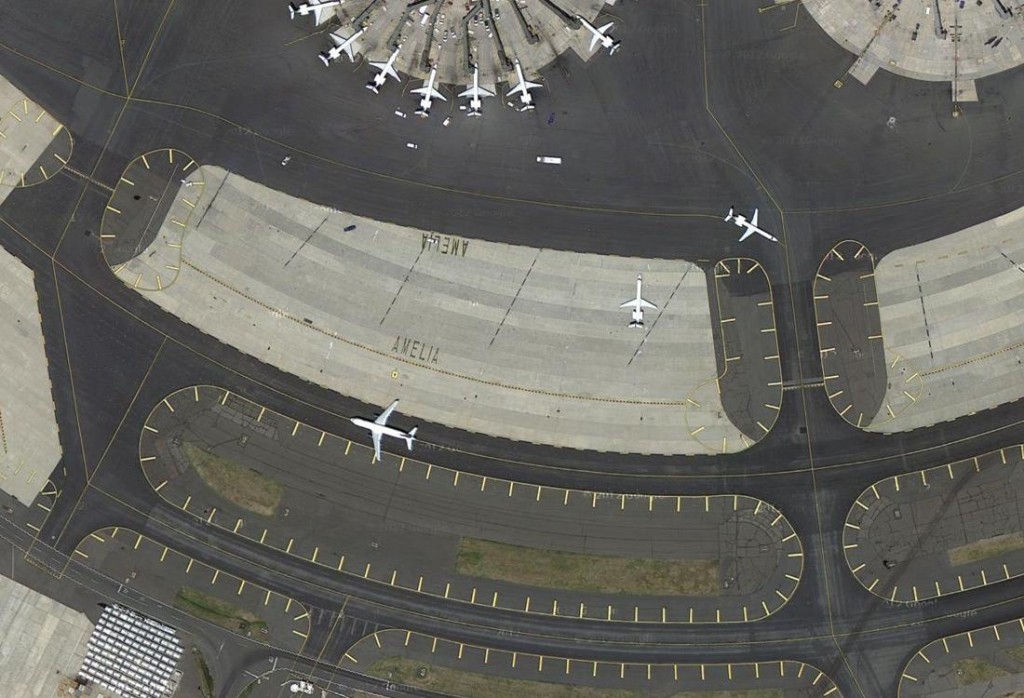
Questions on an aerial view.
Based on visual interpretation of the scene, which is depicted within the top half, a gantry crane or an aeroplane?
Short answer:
aeroplane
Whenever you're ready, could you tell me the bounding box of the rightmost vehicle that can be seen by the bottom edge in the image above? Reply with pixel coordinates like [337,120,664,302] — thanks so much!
[299,682,315,694]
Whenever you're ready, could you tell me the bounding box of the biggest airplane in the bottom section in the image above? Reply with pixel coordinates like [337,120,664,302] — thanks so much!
[351,400,419,460]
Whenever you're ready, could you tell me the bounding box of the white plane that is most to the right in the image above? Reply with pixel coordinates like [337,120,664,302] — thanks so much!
[727,209,777,243]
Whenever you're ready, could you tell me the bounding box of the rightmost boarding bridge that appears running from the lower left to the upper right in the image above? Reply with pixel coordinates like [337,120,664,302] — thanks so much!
[388,0,438,50]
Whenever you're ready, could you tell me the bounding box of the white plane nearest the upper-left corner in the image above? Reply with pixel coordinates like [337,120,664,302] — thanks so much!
[290,0,344,27]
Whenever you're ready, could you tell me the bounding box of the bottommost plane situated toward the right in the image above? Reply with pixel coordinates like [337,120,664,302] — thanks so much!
[619,274,656,328]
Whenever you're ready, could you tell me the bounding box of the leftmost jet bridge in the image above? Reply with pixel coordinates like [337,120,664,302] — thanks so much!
[354,0,380,28]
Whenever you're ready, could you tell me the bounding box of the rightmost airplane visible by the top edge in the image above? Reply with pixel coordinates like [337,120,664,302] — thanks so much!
[577,16,622,56]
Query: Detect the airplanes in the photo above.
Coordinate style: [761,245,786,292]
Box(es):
[410,65,446,118]
[619,274,656,328]
[319,29,367,66]
[351,400,419,460]
[577,16,622,56]
[366,46,402,94]
[290,0,344,27]
[506,59,543,113]
[457,64,495,117]
[727,209,777,243]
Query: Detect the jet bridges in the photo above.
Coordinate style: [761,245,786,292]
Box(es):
[934,0,947,38]
[993,0,1010,16]
[388,0,438,50]
[510,0,539,43]
[421,0,444,70]
[541,0,581,28]
[484,0,513,70]
[354,0,380,28]
[462,0,484,70]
